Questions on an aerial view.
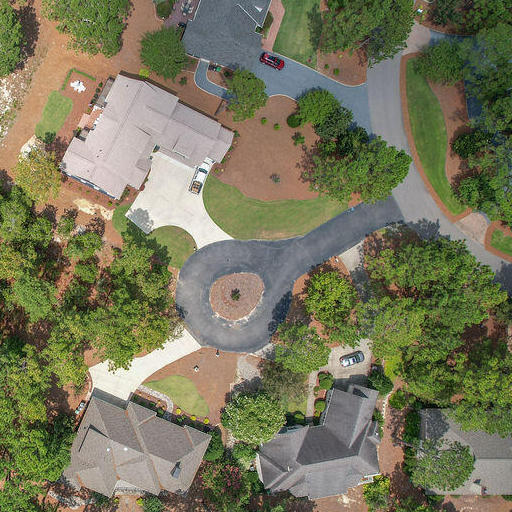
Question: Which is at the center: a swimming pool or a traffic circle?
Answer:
traffic circle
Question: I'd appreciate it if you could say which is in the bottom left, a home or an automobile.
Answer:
home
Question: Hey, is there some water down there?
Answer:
No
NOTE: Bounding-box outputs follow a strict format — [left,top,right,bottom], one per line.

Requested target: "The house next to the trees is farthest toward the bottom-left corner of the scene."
[65,397,212,497]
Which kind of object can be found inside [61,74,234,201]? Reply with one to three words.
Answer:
house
